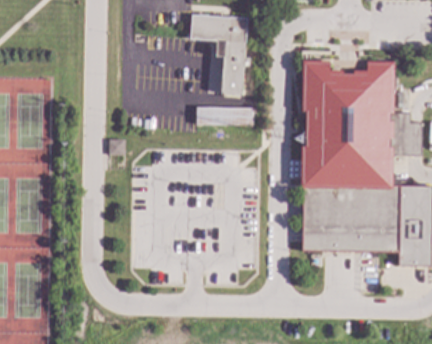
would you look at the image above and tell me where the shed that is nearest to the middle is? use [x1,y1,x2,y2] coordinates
[198,106,256,126]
